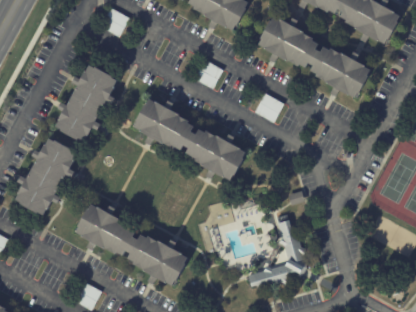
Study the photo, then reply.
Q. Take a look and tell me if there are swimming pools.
Yes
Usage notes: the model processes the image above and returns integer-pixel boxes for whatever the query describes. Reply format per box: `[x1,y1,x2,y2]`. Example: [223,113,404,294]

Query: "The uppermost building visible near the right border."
[300,0,400,44]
